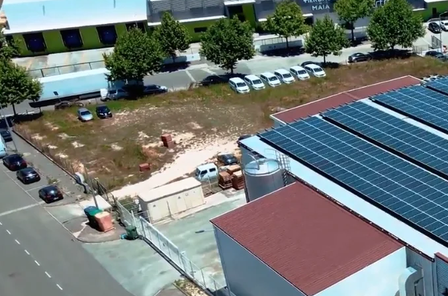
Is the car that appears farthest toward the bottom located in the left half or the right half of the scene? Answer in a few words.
left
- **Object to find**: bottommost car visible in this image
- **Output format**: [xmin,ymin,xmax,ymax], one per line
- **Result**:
[40,183,68,203]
